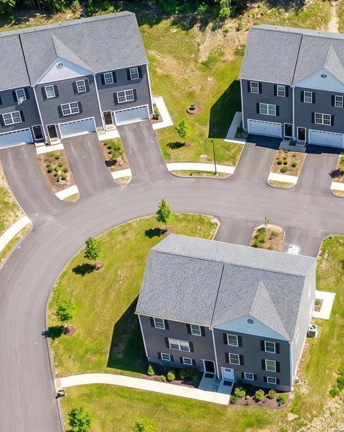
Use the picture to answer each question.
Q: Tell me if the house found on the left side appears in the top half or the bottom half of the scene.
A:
top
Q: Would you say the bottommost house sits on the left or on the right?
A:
right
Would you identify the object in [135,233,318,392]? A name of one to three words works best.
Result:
house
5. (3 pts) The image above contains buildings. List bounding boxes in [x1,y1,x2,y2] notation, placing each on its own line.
[240,24,344,149]
[135,233,318,392]
[0,11,153,149]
